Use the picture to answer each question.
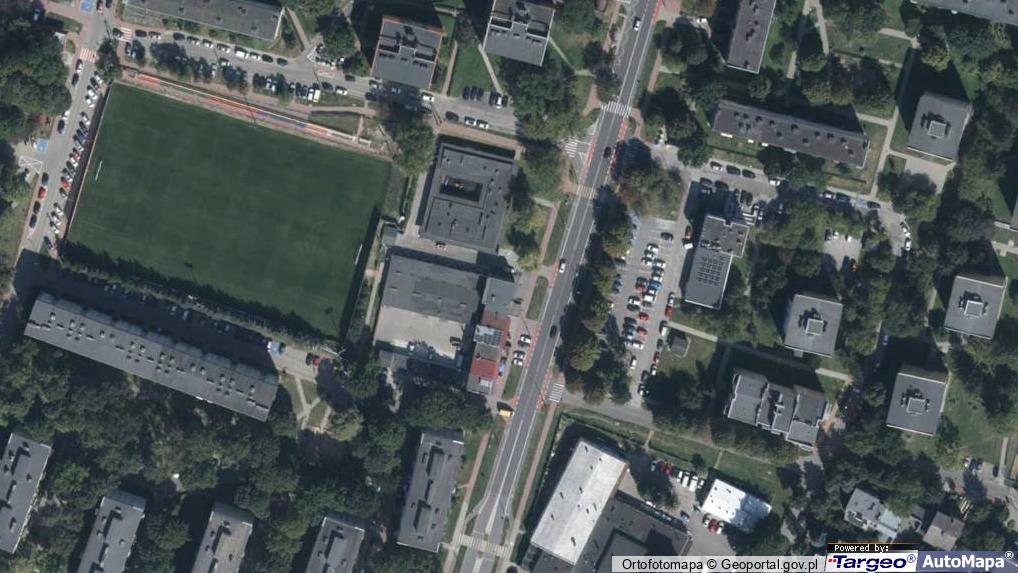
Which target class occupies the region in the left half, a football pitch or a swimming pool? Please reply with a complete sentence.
Visible in the left half is a football pitch.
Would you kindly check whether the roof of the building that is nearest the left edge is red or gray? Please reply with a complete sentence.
The roof of the building that is nearest the left edge looks gray in the image.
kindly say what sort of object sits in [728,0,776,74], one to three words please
building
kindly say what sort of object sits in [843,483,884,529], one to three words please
house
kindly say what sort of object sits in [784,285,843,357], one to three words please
building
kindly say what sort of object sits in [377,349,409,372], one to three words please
shed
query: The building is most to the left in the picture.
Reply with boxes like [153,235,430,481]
[0,425,56,553]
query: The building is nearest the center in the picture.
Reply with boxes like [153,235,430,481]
[483,273,519,316]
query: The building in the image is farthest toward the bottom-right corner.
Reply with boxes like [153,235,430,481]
[921,508,967,558]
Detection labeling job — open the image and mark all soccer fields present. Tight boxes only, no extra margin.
[64,84,393,337]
